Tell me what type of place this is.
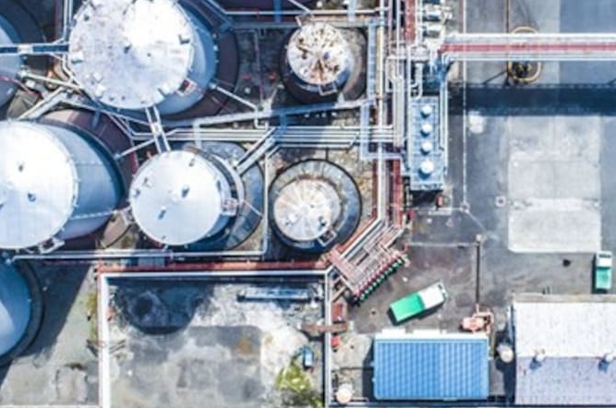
industrial area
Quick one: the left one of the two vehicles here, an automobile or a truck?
truck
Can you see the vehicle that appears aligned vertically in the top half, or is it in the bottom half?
bottom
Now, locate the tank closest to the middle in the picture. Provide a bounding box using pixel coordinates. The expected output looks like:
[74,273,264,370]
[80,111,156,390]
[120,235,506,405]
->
[267,161,364,255]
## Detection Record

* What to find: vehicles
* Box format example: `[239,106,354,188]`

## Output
[592,250,613,292]
[384,276,450,326]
